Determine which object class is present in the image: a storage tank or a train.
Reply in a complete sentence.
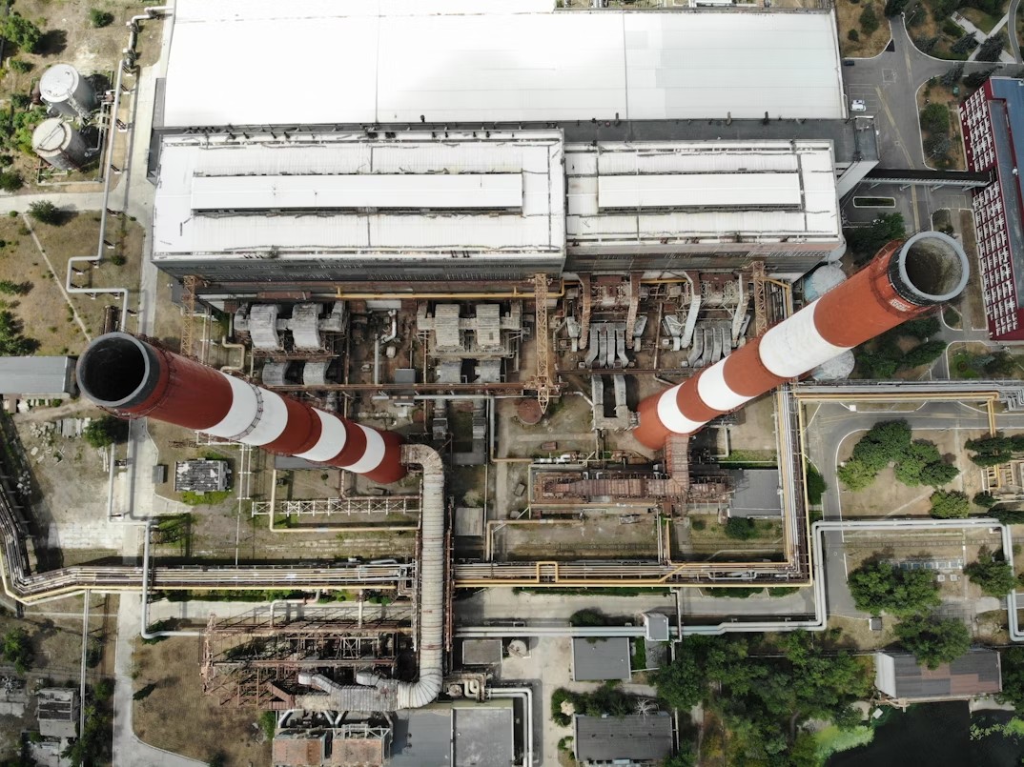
It is a storage tank that can be seen here.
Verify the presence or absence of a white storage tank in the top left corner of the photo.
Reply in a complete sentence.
Yes, a white storage tank shows up in the top left corner of the photo.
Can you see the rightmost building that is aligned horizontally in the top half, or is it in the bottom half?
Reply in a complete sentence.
It is in the bottom half that the rightmost building that is aligned horizontally appears.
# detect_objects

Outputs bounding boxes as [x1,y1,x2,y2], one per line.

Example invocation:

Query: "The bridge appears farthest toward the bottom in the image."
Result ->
[252,498,420,516]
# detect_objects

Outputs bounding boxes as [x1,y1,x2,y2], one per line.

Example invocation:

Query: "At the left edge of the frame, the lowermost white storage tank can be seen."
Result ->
[33,122,84,167]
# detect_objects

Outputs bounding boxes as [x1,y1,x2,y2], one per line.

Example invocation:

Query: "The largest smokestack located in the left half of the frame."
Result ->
[75,329,406,484]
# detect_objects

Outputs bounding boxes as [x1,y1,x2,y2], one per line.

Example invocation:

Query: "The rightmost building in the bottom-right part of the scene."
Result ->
[867,651,1006,703]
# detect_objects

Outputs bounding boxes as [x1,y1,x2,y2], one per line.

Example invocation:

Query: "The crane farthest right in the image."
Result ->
[746,267,768,340]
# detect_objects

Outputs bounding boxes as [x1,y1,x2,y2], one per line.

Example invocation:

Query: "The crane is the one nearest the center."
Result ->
[526,285,561,412]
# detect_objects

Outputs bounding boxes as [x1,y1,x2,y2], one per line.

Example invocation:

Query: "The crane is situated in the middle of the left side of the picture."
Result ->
[179,279,220,360]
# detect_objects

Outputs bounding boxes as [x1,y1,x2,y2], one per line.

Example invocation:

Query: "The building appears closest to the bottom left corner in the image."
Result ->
[34,685,82,741]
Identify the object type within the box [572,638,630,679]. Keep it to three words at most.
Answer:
building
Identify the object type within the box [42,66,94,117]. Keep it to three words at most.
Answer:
storage tank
